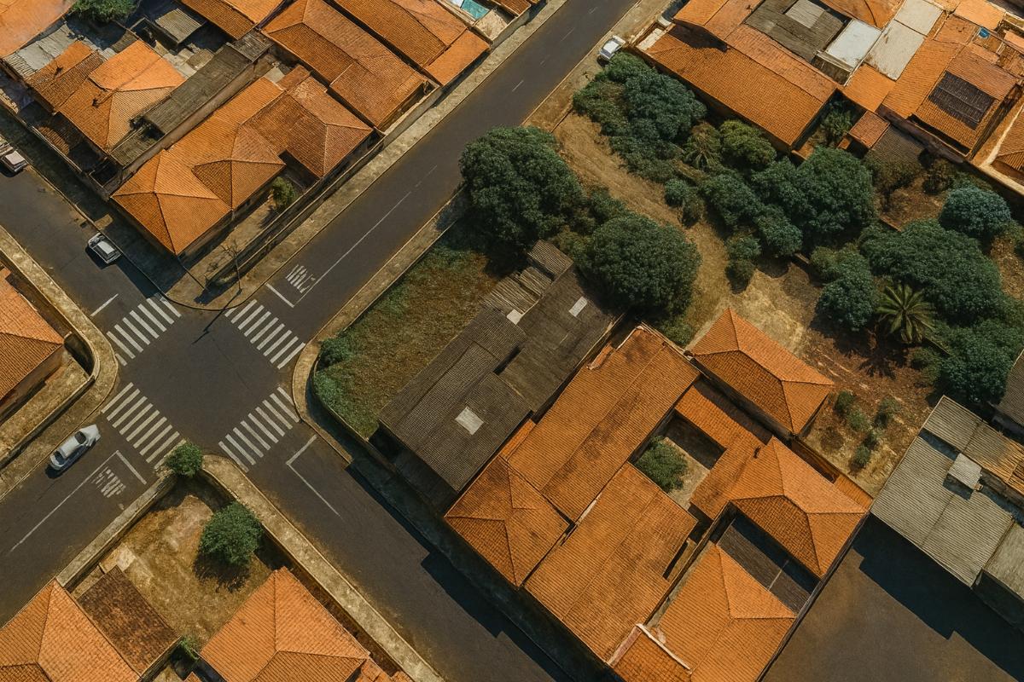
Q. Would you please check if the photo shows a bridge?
No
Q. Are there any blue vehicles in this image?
No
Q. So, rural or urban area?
urban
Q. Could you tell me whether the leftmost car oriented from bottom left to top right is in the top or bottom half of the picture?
bottom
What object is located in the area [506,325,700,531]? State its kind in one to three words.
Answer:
warehouse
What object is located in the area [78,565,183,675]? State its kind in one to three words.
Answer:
shed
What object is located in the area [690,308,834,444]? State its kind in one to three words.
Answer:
house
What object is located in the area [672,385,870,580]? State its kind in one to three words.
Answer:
house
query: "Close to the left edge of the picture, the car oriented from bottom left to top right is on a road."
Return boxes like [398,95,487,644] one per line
[43,425,100,475]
